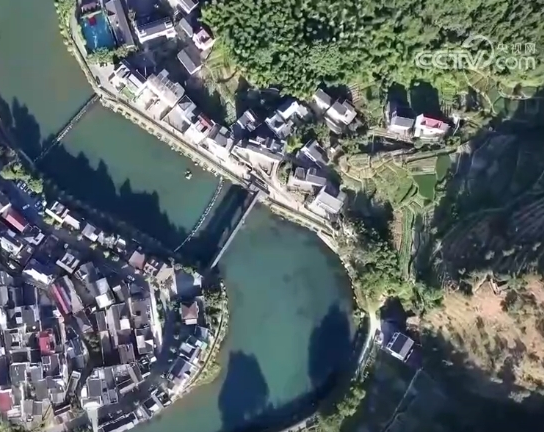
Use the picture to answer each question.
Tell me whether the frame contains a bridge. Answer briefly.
Yes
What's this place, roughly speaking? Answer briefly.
residential area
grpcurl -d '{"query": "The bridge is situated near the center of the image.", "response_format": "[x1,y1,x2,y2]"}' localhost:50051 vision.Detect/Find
[207,190,264,274]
